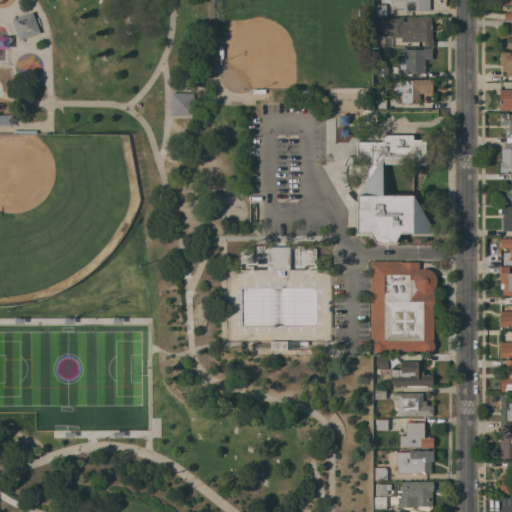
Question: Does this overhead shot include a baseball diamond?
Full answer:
Yes, a baseball diamond is visible in the scene.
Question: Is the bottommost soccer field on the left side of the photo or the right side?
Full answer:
The bottommost soccer field is on the left side of the image.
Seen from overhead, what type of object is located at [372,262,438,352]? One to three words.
building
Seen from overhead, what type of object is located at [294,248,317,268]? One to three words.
building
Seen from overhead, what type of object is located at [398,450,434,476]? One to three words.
house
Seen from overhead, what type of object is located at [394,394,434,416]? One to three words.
house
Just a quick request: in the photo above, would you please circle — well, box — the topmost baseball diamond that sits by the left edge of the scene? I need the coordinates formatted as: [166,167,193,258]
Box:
[0,134,140,303]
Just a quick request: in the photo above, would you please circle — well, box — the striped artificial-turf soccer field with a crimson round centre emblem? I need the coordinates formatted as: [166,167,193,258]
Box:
[0,325,148,432]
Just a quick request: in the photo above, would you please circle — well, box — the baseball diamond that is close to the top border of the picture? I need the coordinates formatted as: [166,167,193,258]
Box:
[216,0,374,93]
